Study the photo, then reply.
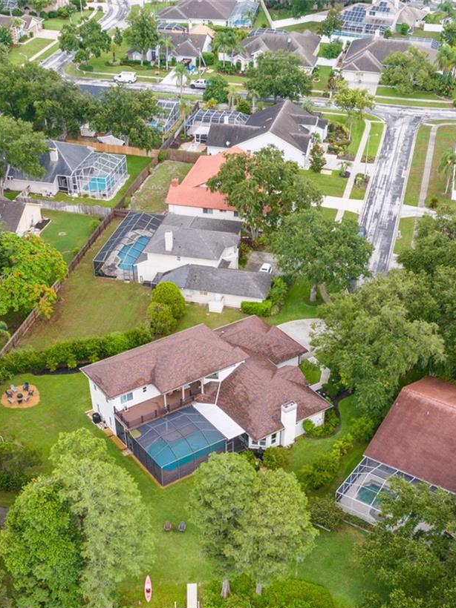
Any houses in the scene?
Yes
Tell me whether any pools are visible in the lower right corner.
Yes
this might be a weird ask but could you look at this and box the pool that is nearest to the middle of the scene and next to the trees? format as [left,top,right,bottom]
[93,231,152,282]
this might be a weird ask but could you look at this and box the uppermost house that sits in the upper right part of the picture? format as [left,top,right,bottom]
[340,0,427,36]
